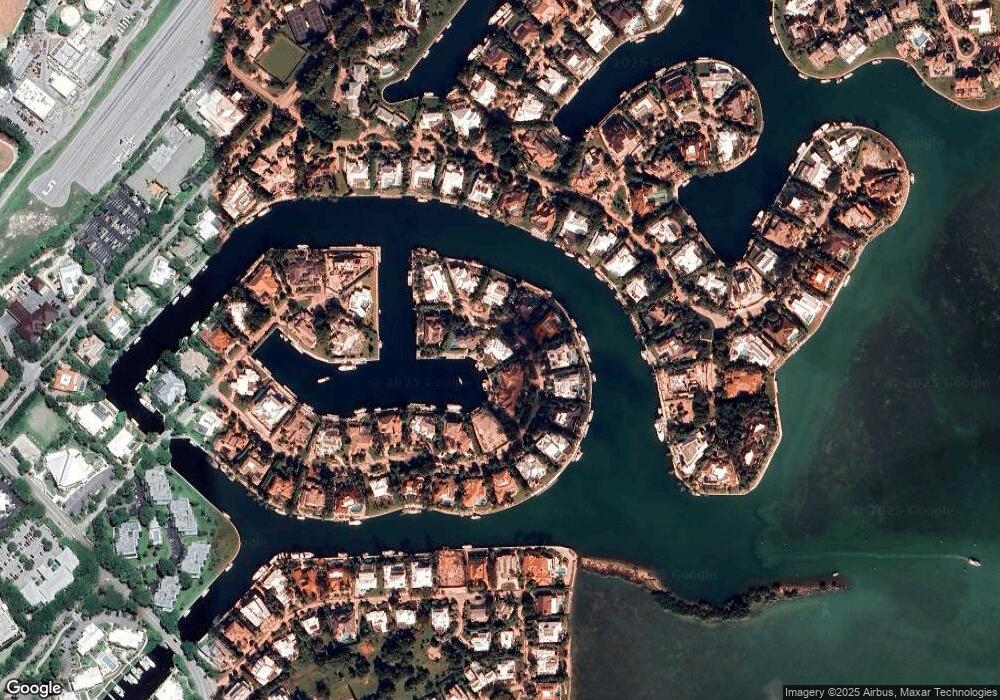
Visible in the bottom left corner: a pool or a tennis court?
pool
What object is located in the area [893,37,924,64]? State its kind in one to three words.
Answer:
house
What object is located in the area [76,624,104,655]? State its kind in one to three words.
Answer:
building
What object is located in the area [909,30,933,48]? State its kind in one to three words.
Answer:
swimming pool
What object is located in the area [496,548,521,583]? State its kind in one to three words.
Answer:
house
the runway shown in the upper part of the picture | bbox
[28,0,225,206]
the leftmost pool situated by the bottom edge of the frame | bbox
[99,651,121,674]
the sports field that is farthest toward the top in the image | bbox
[255,33,306,83]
